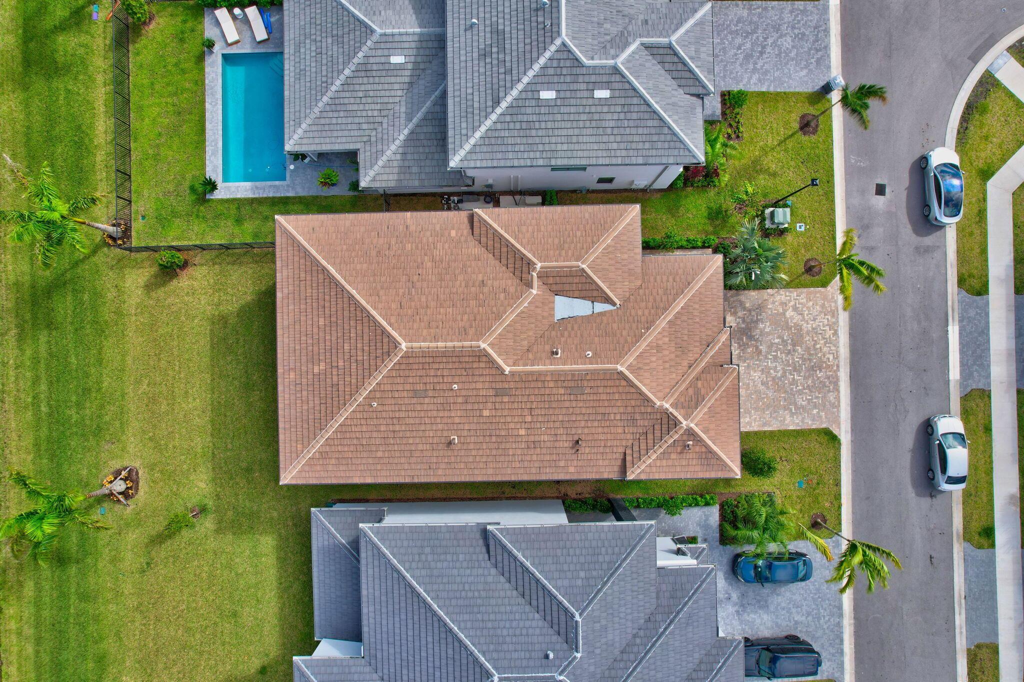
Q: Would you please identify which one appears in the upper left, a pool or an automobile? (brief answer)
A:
pool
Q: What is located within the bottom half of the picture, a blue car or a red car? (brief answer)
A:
blue car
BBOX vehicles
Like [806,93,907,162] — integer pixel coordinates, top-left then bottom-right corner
[731,550,814,588]
[930,414,973,492]
[745,637,819,679]
[921,148,965,225]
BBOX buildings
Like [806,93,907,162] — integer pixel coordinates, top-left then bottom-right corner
[274,202,743,487]
[280,0,717,195]
[291,501,746,682]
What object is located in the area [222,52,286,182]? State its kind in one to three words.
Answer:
swimming pool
